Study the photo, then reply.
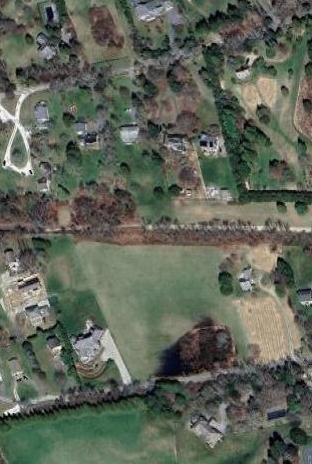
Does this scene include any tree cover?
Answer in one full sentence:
Yes, tree cover can be seen from above here.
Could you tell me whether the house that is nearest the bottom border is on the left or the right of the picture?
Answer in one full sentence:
The house that is nearest the bottom border appears in the right half of the scene.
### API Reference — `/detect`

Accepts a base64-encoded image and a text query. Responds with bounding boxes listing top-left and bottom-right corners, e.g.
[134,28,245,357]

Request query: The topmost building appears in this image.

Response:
[129,0,183,24]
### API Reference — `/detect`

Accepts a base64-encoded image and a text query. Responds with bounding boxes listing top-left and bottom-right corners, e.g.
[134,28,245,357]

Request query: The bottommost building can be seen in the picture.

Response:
[187,412,224,448]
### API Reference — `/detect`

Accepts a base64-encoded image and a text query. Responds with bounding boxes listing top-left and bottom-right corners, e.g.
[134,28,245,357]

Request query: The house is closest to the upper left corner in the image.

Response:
[34,29,71,61]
